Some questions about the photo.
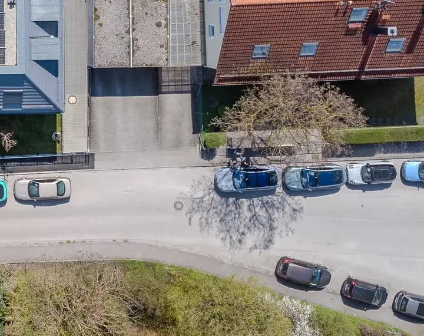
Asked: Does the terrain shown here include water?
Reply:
No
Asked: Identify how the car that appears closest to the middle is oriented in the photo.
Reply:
horizontally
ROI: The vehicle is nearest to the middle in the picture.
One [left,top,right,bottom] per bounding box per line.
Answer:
[213,166,277,195]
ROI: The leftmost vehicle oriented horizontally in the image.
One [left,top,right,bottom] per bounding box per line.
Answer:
[13,176,71,202]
